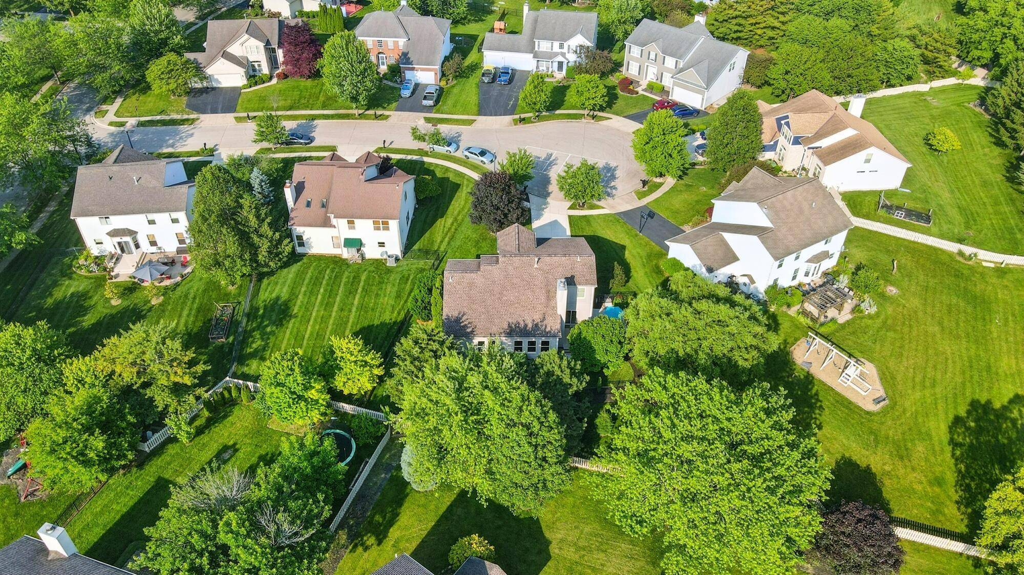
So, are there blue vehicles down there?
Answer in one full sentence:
Yes, the picture does show a blue vehicle.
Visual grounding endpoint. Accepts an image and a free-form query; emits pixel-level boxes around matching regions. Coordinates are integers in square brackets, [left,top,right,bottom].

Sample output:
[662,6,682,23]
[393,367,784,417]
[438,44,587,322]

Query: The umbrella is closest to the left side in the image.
[133,261,169,285]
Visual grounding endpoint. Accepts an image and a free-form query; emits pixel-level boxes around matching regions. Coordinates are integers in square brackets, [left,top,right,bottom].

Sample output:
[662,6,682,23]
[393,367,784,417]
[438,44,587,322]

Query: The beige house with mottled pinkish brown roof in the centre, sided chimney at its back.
[441,222,597,354]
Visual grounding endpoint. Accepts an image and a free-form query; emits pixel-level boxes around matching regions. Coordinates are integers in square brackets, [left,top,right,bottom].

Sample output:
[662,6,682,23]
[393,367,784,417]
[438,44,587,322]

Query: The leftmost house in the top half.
[70,142,196,253]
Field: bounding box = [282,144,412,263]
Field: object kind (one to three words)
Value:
house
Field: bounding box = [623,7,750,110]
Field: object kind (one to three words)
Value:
house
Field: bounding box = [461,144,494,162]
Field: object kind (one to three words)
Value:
car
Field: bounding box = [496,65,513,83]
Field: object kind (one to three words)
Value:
vehicle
